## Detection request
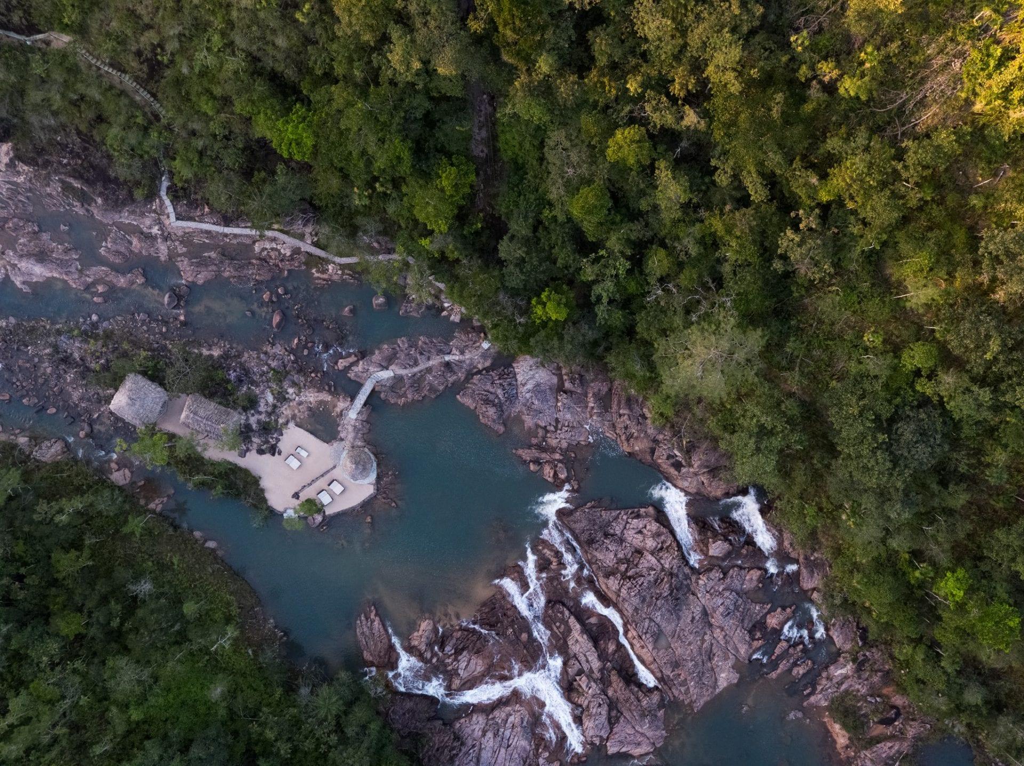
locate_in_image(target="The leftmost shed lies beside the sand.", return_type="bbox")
[107,367,175,433]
